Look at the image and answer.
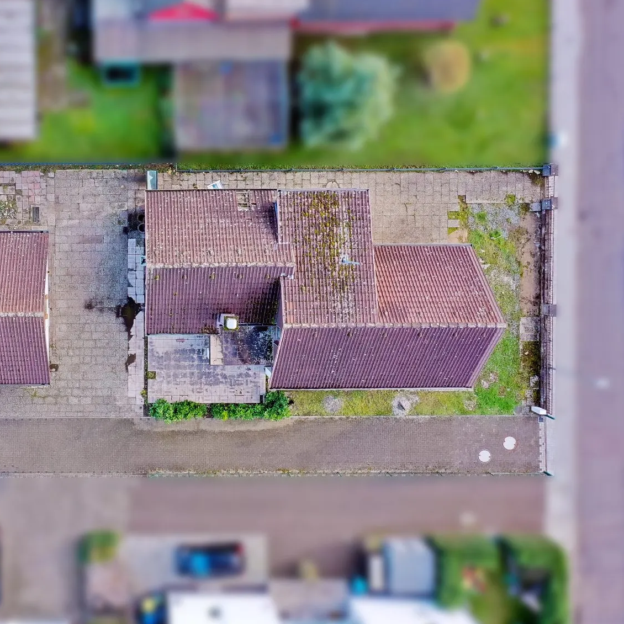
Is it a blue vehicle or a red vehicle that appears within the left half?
blue vehicle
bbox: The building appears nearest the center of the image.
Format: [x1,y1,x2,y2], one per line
[145,187,508,393]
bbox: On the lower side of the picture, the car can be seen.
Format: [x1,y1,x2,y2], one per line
[176,542,245,586]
